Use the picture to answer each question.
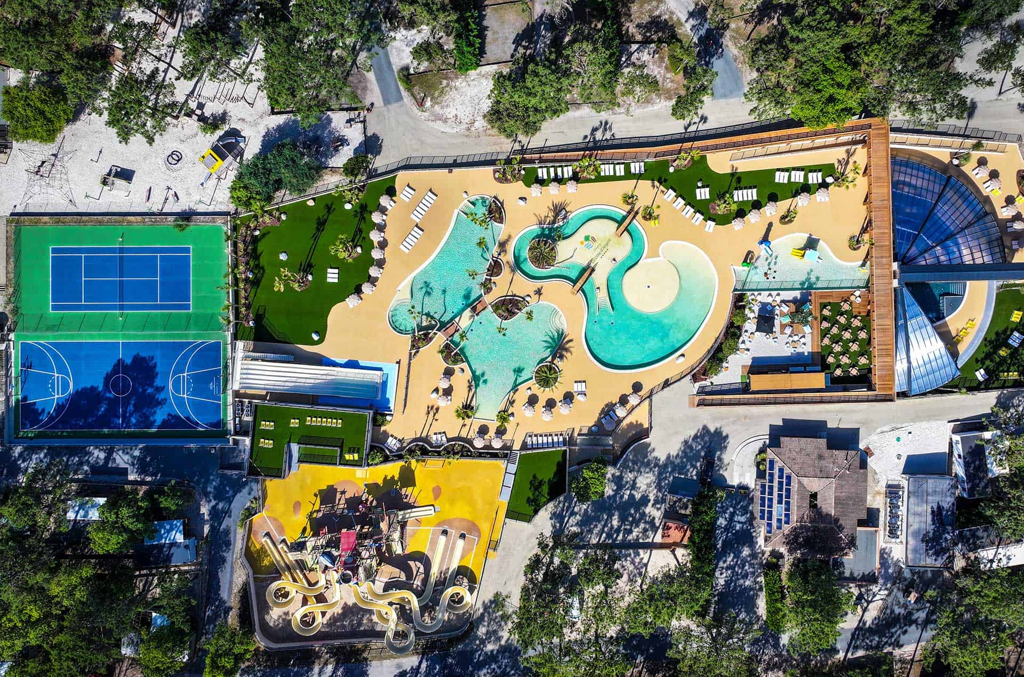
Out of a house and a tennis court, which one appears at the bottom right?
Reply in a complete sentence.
The one visible at the bottom right is a house.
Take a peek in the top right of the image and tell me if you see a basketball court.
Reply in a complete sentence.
No, in the top right of the image there is no basketball court.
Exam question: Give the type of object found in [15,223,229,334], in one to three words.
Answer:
tennis court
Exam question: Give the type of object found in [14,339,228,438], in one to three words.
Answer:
basketball court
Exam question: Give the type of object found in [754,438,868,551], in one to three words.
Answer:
house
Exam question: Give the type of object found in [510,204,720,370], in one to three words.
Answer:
swimming pool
